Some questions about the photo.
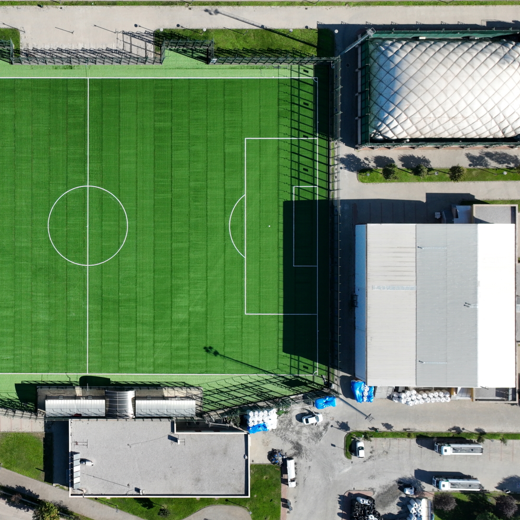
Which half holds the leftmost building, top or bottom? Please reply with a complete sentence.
The bottom half of the photo is where the leftmost building is.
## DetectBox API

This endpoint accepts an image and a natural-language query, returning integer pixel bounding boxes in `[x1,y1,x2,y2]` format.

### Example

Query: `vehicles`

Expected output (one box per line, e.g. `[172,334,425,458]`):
[432,474,481,490]
[301,411,322,427]
[285,458,298,486]
[397,483,415,495]
[435,440,483,456]
[355,440,365,459]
